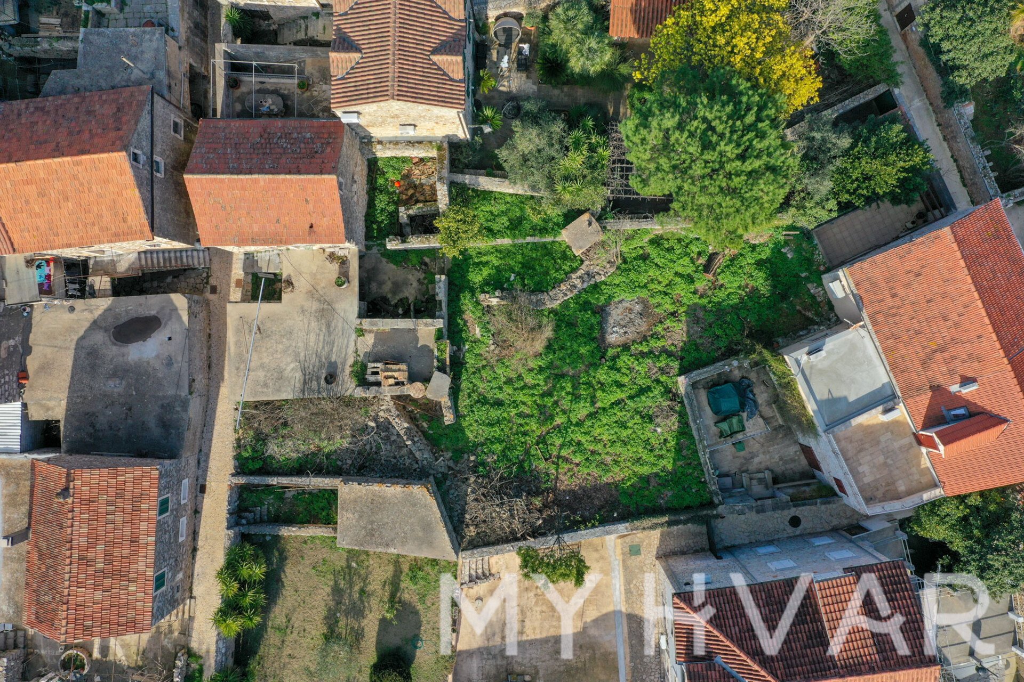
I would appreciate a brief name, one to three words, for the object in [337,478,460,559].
building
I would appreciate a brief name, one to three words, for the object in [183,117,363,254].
house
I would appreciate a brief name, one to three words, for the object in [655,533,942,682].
house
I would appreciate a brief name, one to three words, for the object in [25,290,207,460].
building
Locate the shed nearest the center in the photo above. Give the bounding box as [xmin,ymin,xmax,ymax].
[562,213,603,256]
